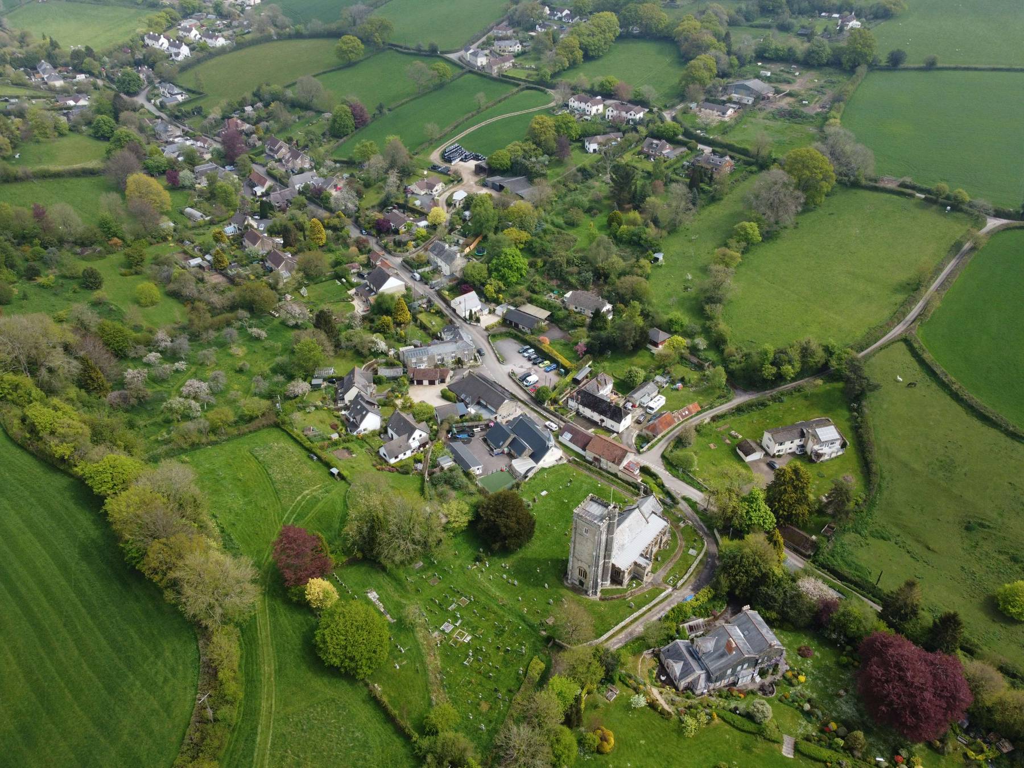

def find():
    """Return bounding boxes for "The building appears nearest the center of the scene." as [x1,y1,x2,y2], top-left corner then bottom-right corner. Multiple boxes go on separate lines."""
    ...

[457,372,522,429]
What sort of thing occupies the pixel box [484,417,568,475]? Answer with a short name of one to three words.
building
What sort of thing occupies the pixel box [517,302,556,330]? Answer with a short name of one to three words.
barn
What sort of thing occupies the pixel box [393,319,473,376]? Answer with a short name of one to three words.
house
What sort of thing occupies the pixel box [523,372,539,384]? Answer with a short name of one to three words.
vehicle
